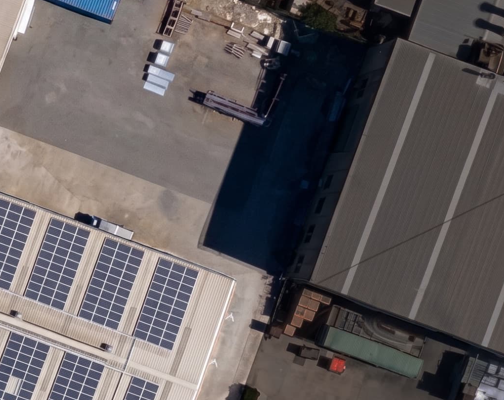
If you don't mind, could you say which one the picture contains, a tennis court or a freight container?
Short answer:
freight container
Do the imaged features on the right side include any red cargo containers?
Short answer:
No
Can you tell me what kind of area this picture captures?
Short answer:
industrial area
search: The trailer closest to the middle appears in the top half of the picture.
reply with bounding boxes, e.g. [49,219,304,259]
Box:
[203,91,267,127]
